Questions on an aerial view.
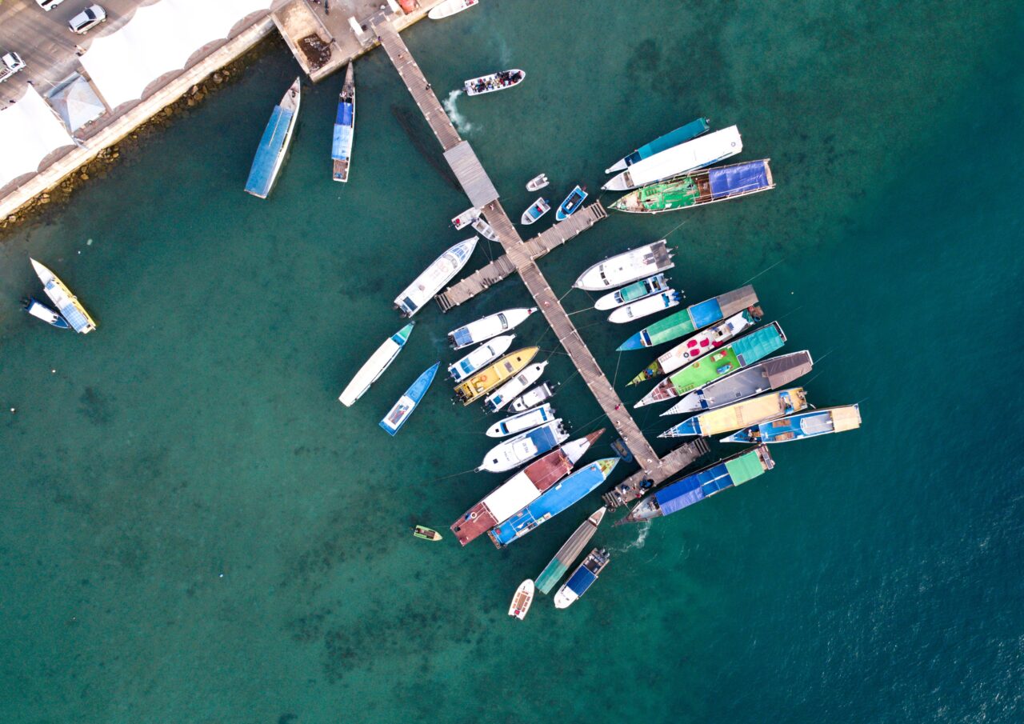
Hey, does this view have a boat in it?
Yes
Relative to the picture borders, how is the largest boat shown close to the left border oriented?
diagonally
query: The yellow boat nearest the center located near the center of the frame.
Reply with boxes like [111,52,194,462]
[451,346,539,404]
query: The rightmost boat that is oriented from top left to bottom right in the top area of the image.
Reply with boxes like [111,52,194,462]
[472,217,498,242]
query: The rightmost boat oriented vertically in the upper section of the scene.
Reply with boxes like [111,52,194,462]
[331,58,355,184]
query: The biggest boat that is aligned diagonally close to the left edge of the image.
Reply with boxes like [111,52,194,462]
[30,258,100,333]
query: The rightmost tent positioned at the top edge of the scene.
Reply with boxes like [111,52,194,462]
[79,0,275,112]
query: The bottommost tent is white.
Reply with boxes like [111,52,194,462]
[0,85,82,197]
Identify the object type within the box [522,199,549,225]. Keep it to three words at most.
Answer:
boat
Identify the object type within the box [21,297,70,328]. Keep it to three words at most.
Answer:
boat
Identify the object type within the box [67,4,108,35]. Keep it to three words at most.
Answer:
car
